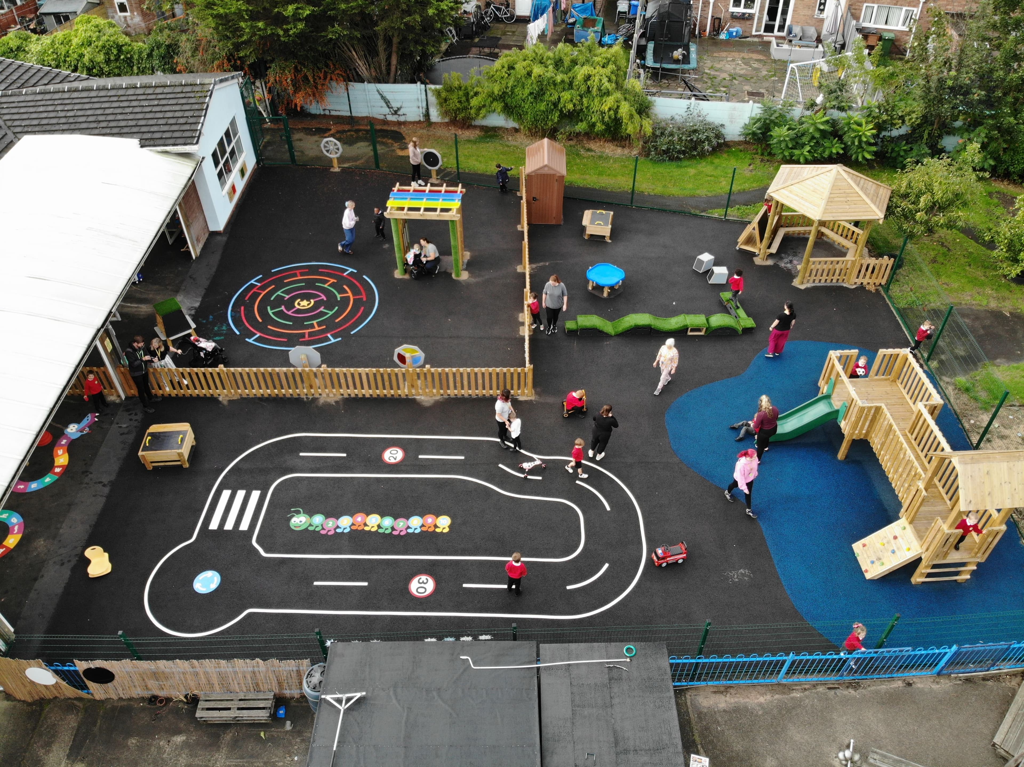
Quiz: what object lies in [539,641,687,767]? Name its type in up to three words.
building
